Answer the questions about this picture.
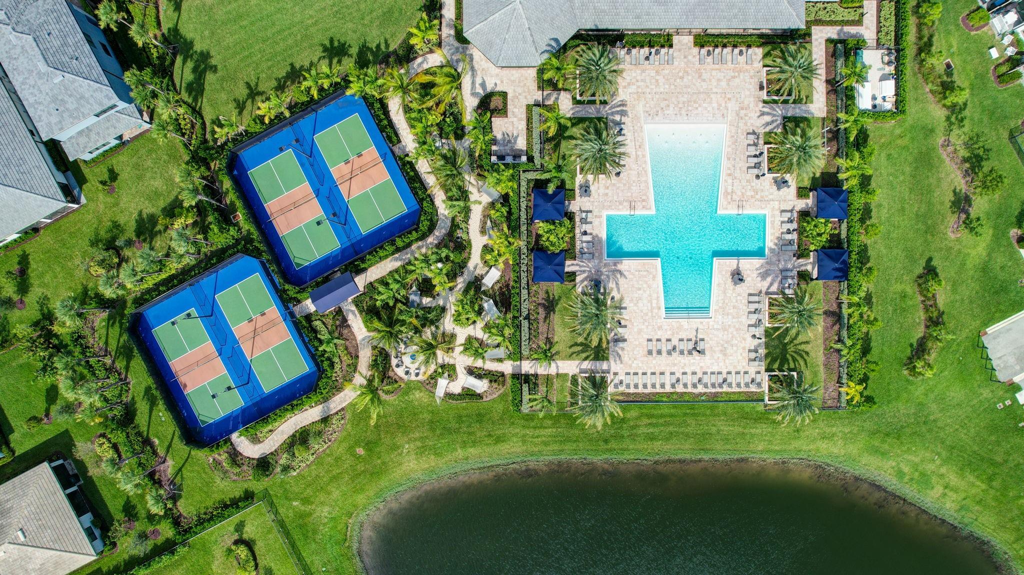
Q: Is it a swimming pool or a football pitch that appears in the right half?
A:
swimming pool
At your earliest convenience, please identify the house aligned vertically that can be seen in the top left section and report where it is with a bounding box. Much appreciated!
[0,64,79,243]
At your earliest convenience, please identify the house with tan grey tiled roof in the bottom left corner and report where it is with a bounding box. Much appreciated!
[0,457,117,575]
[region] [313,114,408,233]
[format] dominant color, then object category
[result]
green sports court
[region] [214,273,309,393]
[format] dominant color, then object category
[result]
green sports court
